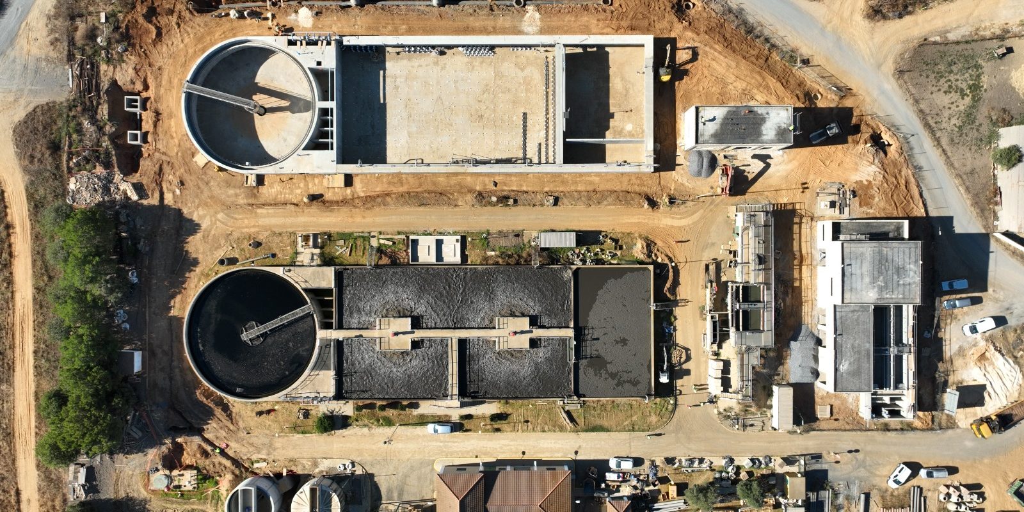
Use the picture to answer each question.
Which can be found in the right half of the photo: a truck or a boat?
truck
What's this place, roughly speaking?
industrial area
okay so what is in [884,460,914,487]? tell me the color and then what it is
white vehicle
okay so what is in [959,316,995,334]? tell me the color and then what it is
white car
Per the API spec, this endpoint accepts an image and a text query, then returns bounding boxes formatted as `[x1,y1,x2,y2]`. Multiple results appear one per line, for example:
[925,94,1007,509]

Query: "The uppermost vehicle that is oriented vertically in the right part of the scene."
[657,47,672,82]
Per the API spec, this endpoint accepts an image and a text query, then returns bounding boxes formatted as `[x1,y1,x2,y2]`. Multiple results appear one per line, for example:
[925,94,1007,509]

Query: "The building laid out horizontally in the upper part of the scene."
[685,106,799,152]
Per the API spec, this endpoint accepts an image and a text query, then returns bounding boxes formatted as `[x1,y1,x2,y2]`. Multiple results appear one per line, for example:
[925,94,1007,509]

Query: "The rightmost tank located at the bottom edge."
[290,477,347,512]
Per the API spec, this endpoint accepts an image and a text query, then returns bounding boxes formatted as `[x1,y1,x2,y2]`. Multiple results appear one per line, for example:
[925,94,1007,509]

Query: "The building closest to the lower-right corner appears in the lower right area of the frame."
[935,386,959,411]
